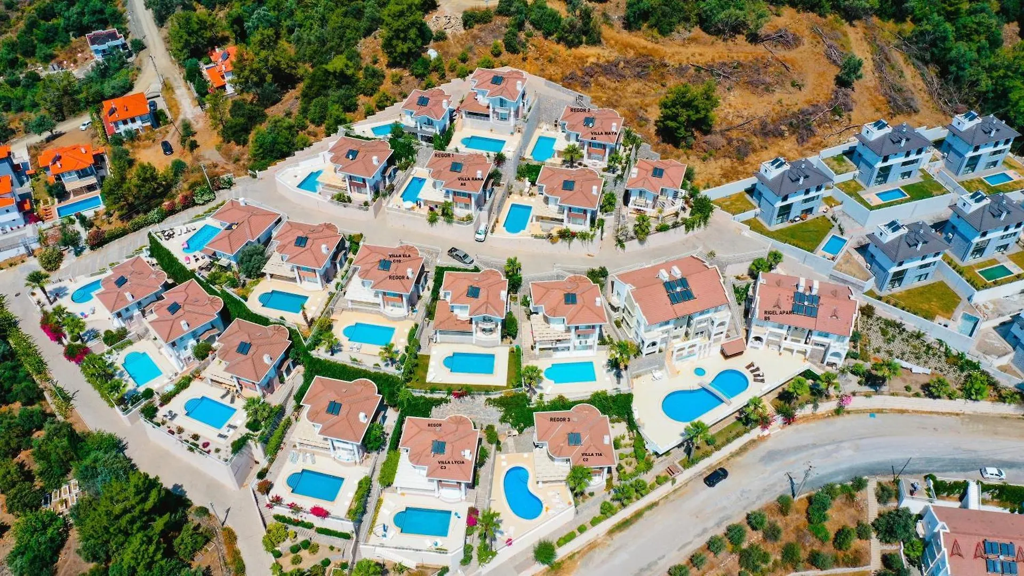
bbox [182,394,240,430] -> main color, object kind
blue swimming pool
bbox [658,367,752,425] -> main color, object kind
blue swimming pool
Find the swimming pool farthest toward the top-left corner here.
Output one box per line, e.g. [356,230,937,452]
[55,195,104,219]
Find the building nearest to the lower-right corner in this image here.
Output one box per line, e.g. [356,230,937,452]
[904,504,1024,576]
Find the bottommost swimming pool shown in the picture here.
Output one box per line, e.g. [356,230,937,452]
[393,506,454,539]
